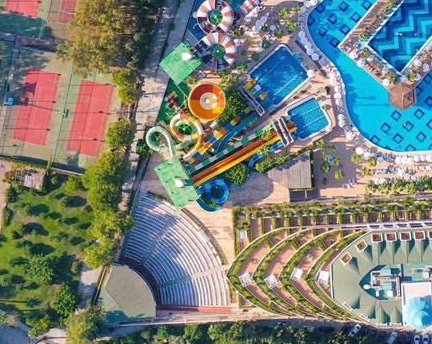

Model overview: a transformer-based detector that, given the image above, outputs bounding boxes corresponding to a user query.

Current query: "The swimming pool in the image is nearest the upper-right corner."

[366,0,432,75]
